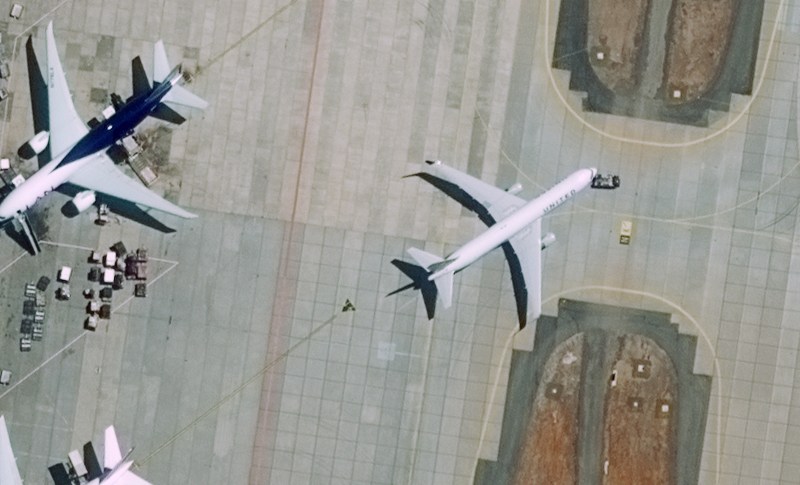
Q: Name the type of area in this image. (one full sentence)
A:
The area seen from above is an airport.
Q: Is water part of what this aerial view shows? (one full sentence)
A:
No, there's no water in this view.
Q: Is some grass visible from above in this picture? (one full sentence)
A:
No, there's no grass in this view.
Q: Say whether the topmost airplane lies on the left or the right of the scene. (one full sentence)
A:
You can find the topmost airplane on the left side of the picture.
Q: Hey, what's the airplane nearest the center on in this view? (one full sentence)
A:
It looks like the airplane nearest the center is sitting on the apron.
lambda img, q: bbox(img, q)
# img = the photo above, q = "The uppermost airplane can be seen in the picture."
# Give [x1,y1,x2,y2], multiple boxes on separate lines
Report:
[0,20,212,219]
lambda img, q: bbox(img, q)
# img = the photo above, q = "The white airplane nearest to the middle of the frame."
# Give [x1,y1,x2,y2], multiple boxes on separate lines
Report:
[407,162,598,324]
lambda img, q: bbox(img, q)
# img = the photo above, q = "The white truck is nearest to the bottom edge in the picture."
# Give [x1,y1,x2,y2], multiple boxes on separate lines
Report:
[69,451,90,485]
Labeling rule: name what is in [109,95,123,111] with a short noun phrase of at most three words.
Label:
work vehicle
